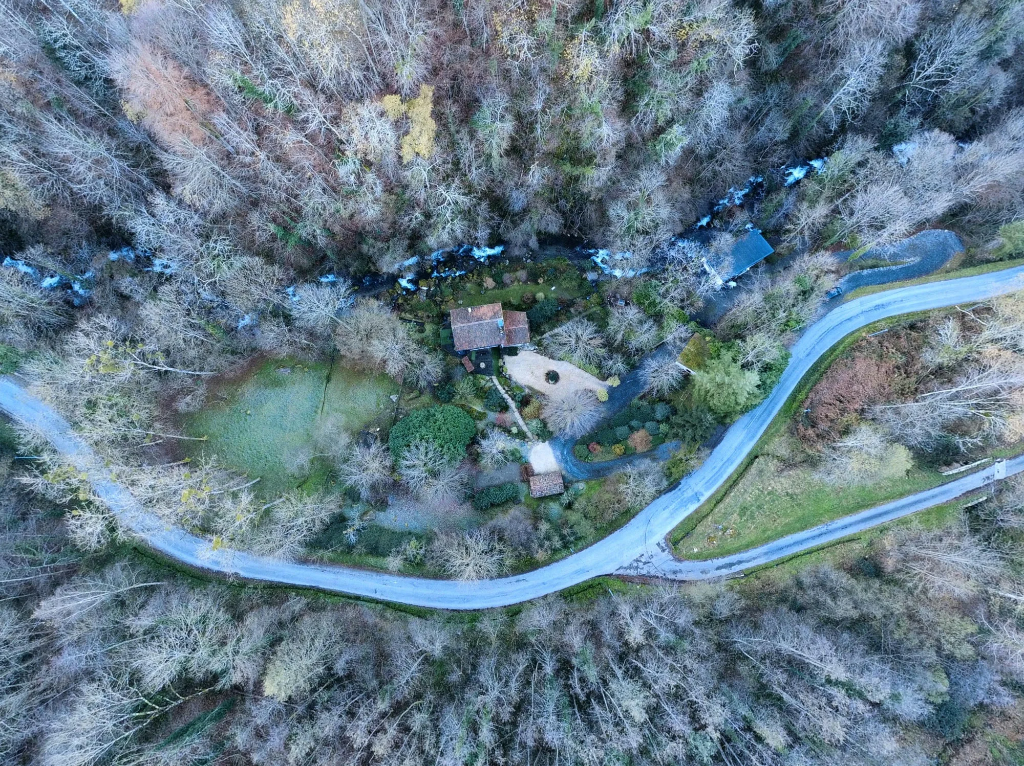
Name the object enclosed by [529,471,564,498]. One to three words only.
shed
